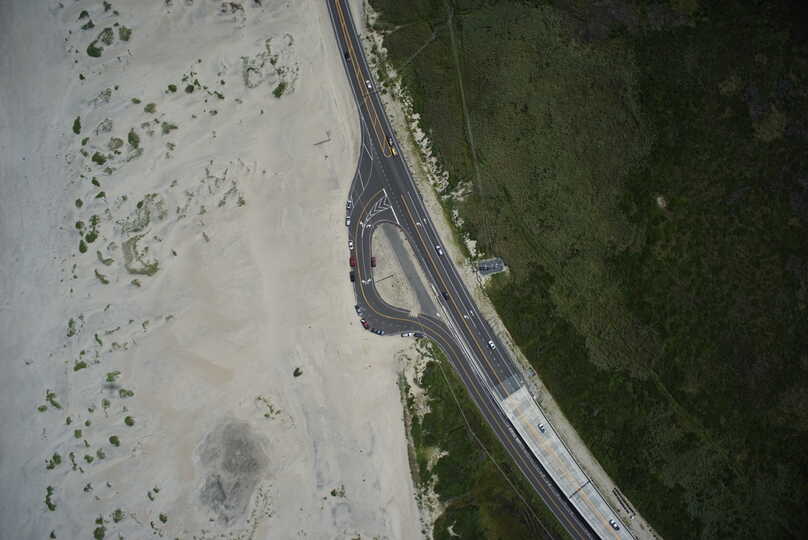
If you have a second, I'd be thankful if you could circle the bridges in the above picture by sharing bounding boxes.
[501,387,635,540]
